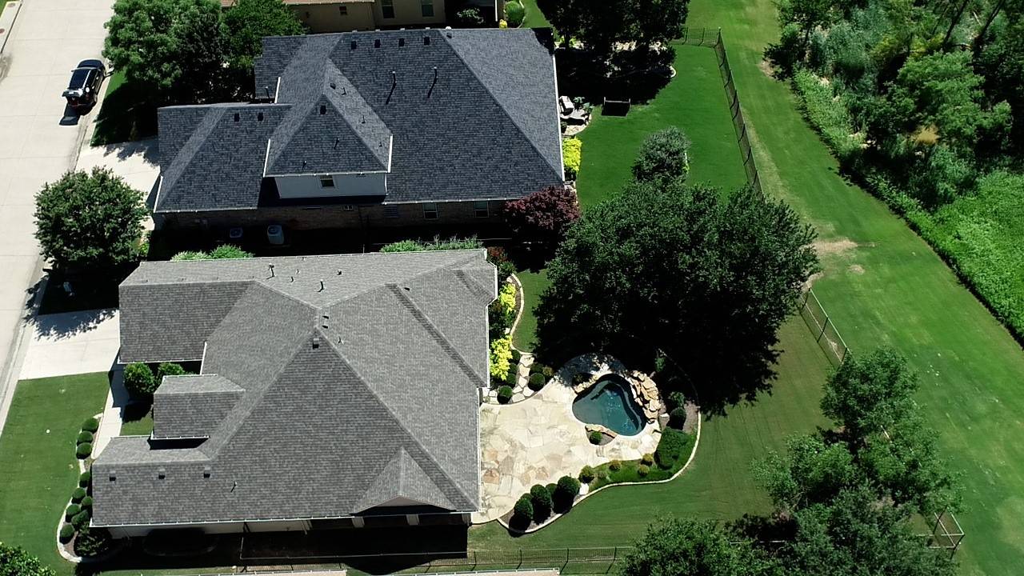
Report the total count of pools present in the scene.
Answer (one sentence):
The picture shows 1 pool.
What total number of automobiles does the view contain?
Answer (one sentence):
In total, 1 automobile can be seen.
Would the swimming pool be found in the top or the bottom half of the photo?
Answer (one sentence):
It is in the bottom half that the swimming pool appears.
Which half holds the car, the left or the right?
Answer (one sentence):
The car is on the left side of the image.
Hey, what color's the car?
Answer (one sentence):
The car is black.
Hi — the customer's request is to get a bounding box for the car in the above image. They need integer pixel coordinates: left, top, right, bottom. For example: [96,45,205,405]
[58,62,107,112]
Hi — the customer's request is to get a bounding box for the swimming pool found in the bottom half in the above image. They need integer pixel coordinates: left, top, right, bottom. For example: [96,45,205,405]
[568,369,651,441]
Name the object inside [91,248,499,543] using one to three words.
house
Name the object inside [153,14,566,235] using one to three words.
house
